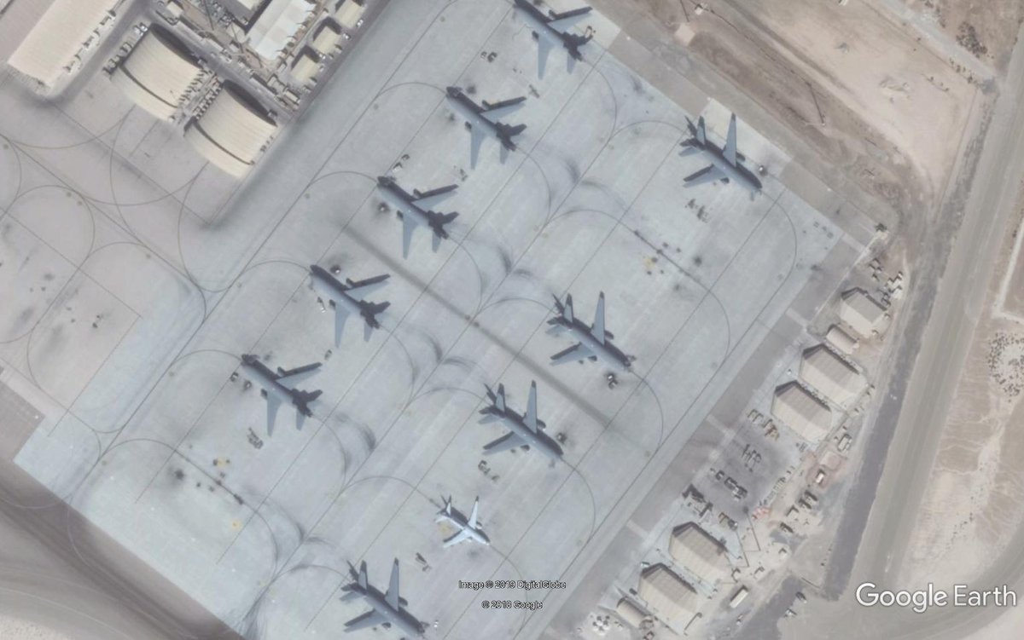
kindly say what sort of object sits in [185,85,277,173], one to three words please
hangar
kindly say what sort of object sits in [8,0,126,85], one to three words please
building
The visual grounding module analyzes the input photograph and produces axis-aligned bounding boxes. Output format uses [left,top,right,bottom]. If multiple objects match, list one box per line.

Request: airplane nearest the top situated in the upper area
[513,3,594,81]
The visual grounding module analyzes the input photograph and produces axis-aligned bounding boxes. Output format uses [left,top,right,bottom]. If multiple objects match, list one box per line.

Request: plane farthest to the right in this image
[677,113,761,191]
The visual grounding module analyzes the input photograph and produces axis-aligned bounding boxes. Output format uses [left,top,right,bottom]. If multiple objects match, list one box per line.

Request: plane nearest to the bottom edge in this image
[341,562,424,639]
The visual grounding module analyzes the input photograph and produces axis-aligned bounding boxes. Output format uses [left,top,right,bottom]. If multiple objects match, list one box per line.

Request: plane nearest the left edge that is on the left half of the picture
[241,363,321,439]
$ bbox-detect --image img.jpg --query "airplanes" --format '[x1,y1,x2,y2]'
[546,293,630,370]
[437,499,489,547]
[378,184,458,262]
[310,273,390,350]
[478,384,562,462]
[241,363,321,439]
[677,113,761,191]
[513,3,594,81]
[446,94,526,171]
[341,562,424,639]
